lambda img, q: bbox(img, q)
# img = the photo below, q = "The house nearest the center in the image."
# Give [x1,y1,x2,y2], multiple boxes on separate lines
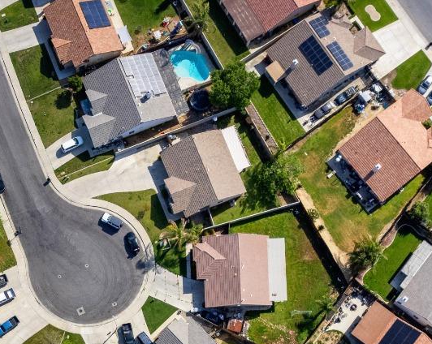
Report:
[161,124,248,215]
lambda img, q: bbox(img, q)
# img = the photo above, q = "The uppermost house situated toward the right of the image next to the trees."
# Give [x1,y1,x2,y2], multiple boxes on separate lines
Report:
[220,0,315,49]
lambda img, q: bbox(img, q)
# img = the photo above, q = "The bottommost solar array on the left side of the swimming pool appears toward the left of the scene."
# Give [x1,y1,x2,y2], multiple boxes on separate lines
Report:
[121,55,162,95]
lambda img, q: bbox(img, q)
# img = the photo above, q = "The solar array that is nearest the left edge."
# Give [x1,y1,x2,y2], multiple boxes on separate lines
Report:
[79,0,111,27]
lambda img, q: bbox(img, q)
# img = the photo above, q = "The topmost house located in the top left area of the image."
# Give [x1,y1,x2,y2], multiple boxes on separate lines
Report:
[40,0,132,70]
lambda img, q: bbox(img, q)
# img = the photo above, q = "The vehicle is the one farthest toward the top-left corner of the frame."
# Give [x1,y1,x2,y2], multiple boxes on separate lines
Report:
[58,136,84,151]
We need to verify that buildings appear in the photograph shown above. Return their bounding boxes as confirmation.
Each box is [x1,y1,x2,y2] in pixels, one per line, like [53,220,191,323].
[157,314,214,344]
[82,51,175,146]
[263,1,386,106]
[161,124,248,215]
[387,240,432,327]
[339,87,432,202]
[40,0,132,70]
[349,302,432,344]
[220,0,315,49]
[193,232,287,308]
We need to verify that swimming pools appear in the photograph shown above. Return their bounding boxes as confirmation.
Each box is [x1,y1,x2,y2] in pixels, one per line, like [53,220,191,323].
[169,48,211,81]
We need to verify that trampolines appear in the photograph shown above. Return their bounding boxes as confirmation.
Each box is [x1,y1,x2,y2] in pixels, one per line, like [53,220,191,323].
[199,85,219,107]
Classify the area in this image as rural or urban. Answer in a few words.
urban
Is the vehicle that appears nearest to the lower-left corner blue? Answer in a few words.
Yes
